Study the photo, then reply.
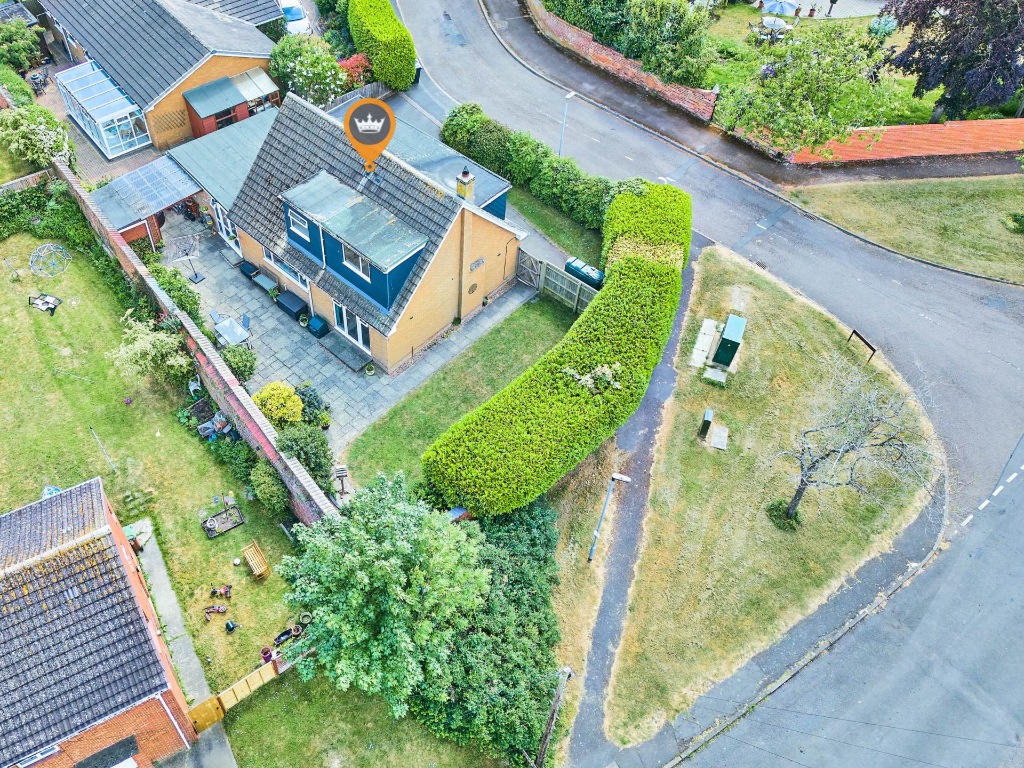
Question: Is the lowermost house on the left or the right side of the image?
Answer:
left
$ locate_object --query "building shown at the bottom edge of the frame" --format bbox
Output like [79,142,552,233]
[0,470,196,768]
